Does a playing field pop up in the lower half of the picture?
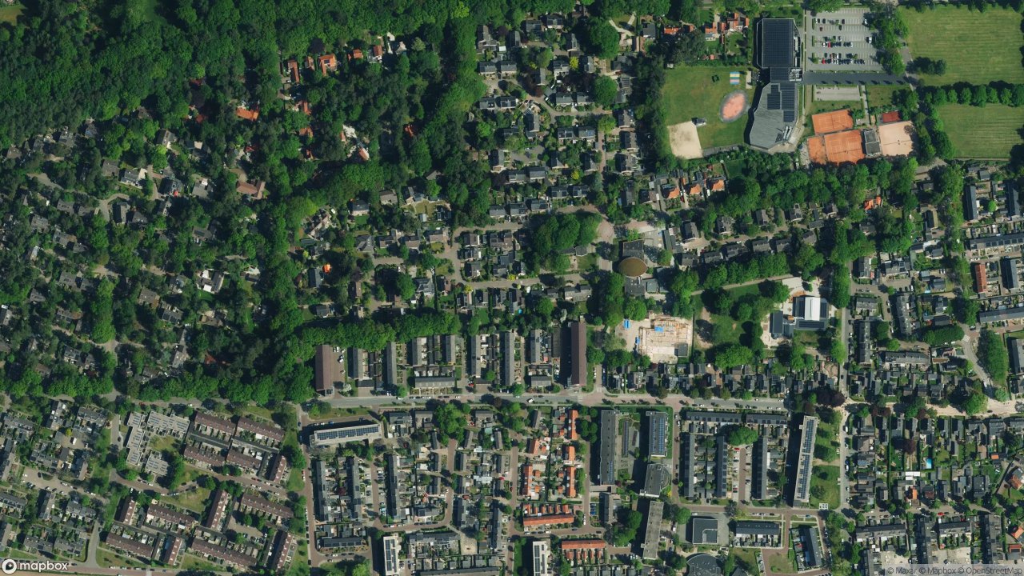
No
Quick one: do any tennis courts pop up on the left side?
No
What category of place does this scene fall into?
residential area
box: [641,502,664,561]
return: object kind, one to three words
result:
building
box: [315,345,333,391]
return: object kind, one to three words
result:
building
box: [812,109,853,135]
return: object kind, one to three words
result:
tennis court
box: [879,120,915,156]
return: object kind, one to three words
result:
tennis court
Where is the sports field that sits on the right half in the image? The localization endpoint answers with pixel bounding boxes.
[668,121,702,159]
